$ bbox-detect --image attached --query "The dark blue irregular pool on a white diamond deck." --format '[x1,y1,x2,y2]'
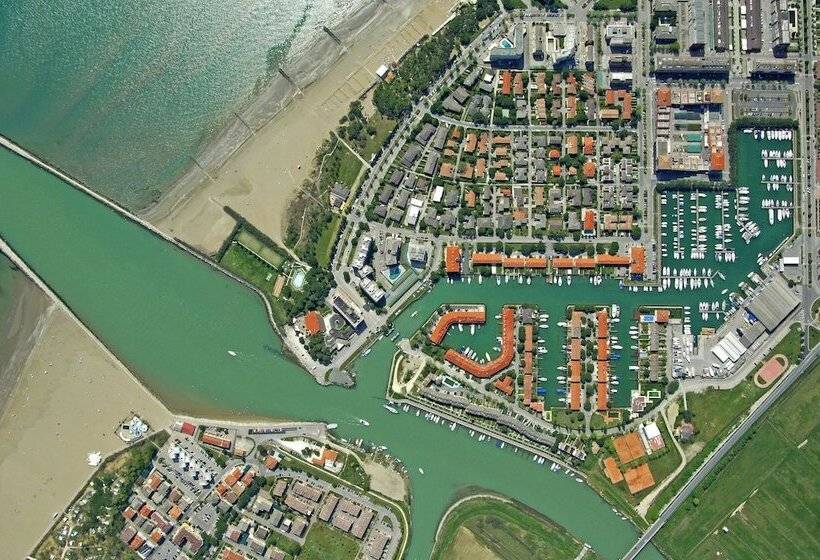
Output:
[385,260,406,279]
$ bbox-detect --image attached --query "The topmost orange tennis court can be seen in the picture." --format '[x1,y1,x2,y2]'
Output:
[614,433,645,462]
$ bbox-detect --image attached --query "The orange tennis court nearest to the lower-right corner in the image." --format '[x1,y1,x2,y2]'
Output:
[625,465,655,493]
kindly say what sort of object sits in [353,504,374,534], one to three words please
house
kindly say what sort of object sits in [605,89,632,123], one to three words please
house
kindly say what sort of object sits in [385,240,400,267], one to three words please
building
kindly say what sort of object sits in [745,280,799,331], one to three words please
shed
